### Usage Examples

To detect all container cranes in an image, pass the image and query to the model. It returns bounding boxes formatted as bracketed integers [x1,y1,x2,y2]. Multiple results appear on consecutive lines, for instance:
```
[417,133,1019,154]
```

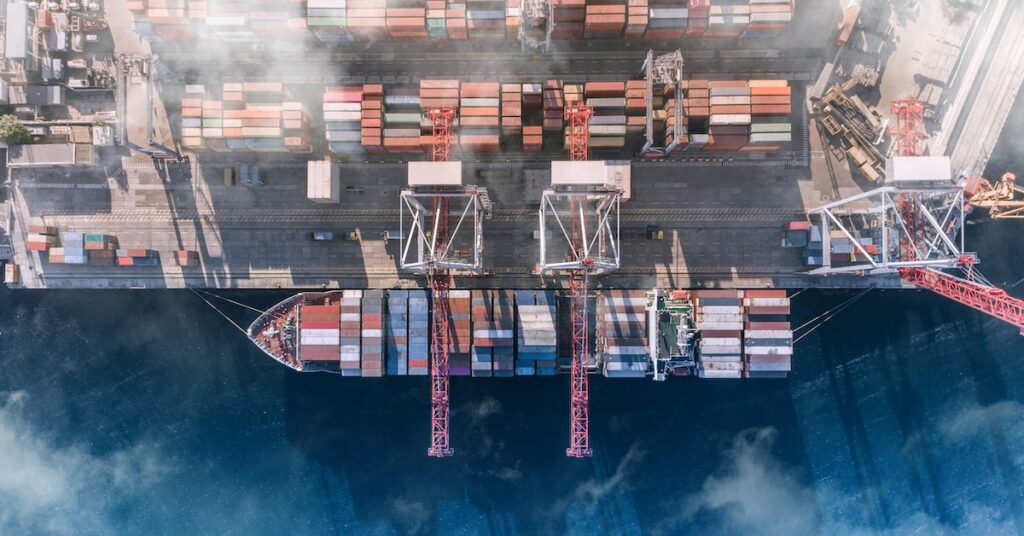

[634,49,683,156]
[515,0,554,56]
[399,101,495,457]
[117,53,184,156]
[797,101,1024,332]
[525,101,628,457]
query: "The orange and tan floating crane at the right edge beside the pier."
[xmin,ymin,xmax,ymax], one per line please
[961,172,1024,210]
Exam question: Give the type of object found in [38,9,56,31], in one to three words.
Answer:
building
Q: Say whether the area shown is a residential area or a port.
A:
port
